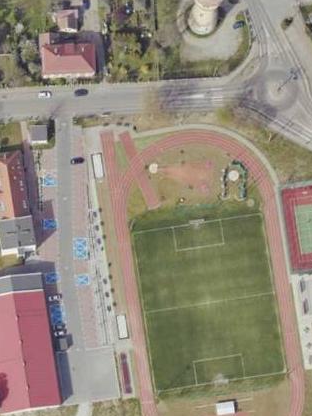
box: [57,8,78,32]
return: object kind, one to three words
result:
building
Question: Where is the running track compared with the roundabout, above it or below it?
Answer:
below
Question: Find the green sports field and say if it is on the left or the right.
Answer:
right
